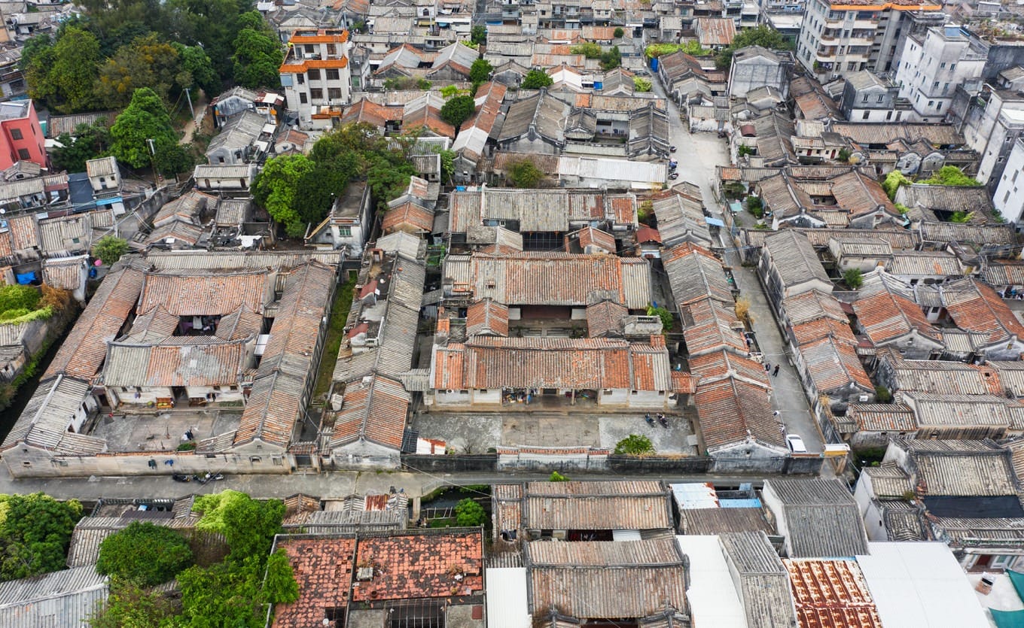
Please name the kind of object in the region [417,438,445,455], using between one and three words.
shed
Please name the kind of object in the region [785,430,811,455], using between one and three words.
car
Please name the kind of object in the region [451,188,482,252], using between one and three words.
building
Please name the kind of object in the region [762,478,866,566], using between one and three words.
house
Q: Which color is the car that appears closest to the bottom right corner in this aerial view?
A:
white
